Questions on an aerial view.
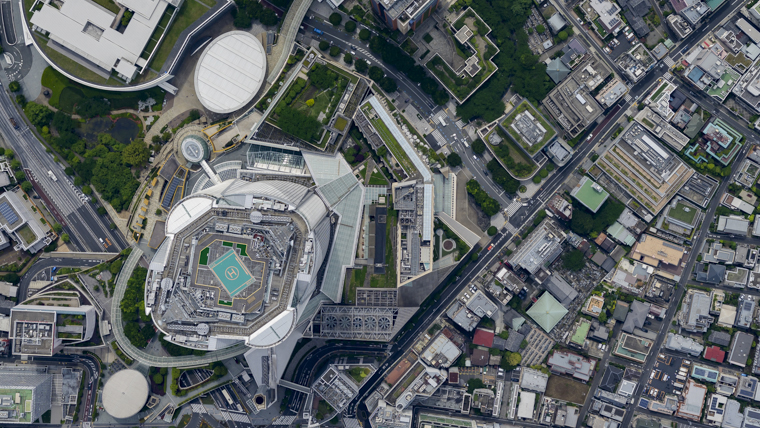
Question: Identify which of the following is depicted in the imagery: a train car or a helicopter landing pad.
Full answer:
Of the two, only a helicopter landing pad appears.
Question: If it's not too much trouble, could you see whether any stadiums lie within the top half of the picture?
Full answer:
Yes, a stadium can be seen within the top half of the picture.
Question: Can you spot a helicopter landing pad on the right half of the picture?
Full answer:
No, I can find no helicopter landing pad on the right half of the picture.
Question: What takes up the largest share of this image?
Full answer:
For the most part, this view shows buildings.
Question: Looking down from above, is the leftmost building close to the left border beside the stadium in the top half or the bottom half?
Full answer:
It is in the top half that the leftmost building close to the left border beside the stadium appears.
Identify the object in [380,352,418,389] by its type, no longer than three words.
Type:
building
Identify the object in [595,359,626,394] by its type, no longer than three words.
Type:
house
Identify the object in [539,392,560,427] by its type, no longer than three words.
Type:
house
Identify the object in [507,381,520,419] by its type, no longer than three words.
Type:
building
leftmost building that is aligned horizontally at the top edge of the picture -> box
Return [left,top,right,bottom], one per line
[20,0,234,94]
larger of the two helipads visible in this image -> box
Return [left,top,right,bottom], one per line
[191,233,269,314]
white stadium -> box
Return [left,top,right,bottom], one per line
[193,30,267,113]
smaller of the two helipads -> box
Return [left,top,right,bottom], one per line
[209,250,255,296]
